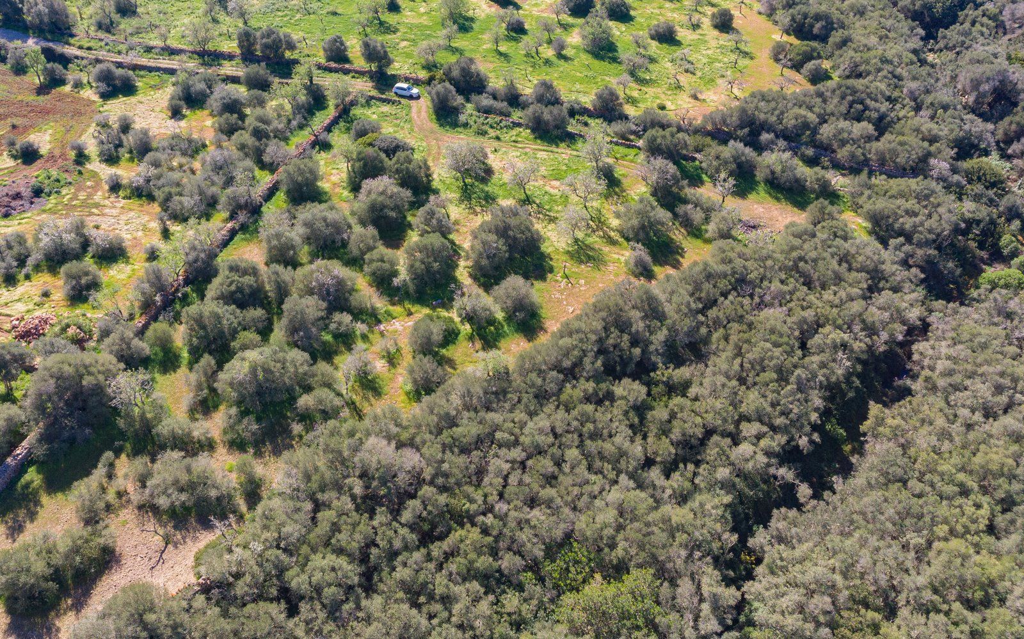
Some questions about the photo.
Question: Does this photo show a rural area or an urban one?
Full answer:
The land in this view is best described as rural.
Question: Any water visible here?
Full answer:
No, there is no water in the image.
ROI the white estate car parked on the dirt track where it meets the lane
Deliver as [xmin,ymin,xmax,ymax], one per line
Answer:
[391,80,419,97]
